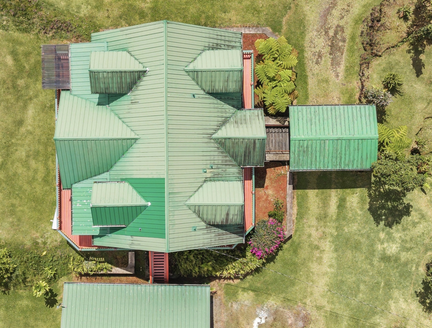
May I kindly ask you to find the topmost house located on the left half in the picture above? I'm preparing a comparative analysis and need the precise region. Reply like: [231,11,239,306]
[42,20,268,285]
